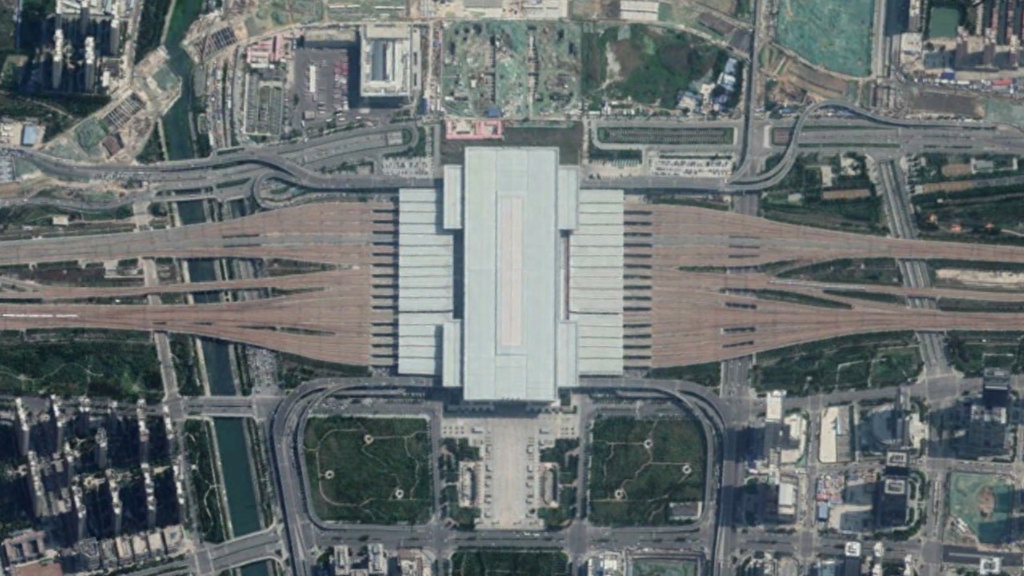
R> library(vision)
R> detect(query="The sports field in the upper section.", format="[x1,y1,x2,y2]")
[929,7,958,37]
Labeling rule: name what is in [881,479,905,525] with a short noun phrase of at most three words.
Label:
building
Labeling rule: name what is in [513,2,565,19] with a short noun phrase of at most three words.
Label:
shed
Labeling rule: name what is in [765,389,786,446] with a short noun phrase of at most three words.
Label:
building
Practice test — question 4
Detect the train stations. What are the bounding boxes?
[371,147,652,415]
